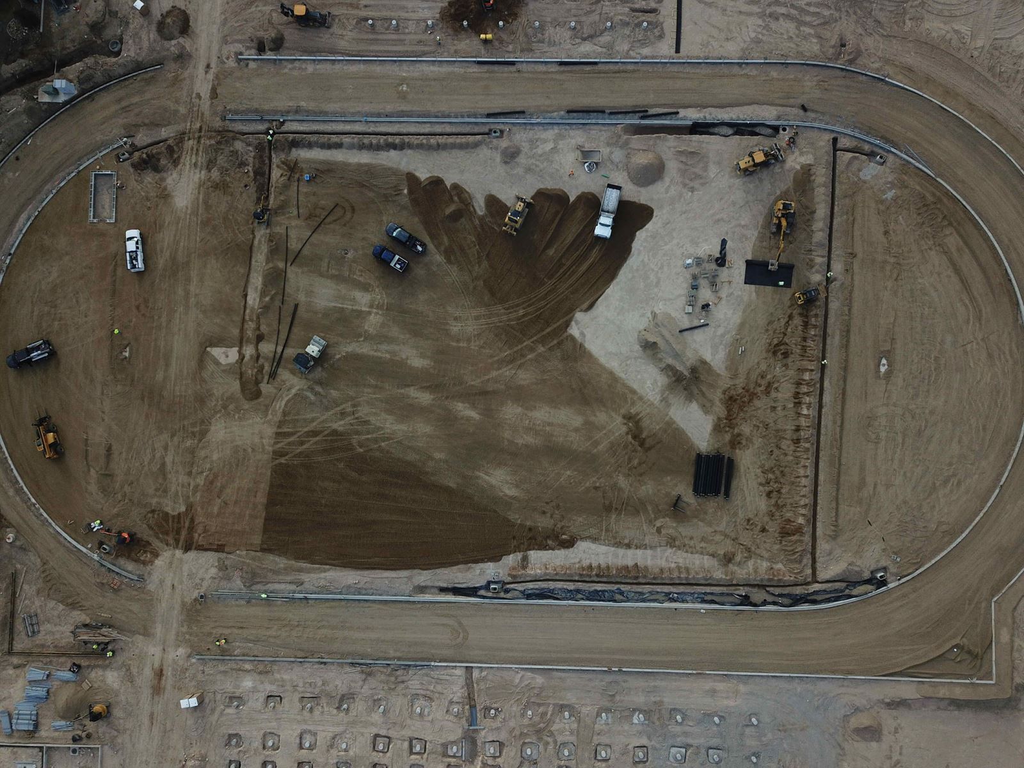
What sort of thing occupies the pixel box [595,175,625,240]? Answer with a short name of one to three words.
truck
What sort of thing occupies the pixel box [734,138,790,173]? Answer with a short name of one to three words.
work vehicle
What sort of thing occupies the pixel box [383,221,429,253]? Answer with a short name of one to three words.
truck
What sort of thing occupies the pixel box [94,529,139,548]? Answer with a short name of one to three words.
work vehicle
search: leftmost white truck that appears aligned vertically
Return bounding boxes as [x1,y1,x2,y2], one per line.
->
[120,227,144,272]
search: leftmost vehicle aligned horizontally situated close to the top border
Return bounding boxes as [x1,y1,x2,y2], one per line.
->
[276,0,331,29]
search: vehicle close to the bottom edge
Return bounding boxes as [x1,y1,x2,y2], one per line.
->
[65,701,109,730]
